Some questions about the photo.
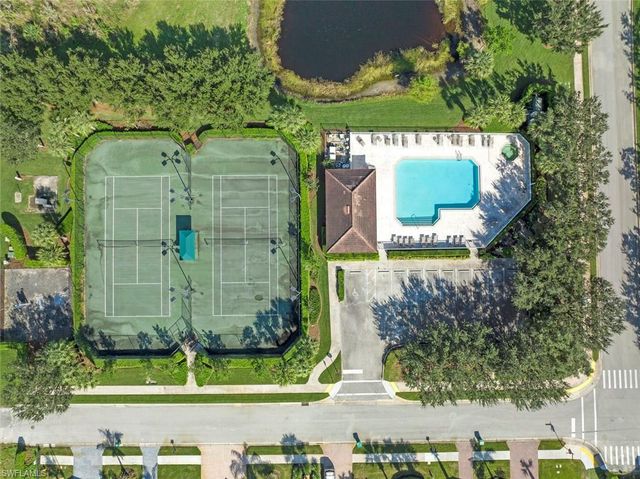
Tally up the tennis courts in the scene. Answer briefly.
2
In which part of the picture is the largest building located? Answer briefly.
center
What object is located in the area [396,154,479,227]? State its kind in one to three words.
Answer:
swimming pool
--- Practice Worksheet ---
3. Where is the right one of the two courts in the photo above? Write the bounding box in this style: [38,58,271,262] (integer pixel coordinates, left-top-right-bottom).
[191,139,299,355]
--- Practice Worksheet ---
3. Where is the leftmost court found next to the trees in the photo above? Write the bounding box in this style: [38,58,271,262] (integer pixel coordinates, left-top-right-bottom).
[86,139,191,355]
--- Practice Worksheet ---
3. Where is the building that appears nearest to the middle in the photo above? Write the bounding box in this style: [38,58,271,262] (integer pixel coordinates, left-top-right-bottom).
[326,169,378,253]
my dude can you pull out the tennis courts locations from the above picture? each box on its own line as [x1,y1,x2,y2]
[191,139,299,355]
[86,139,191,355]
